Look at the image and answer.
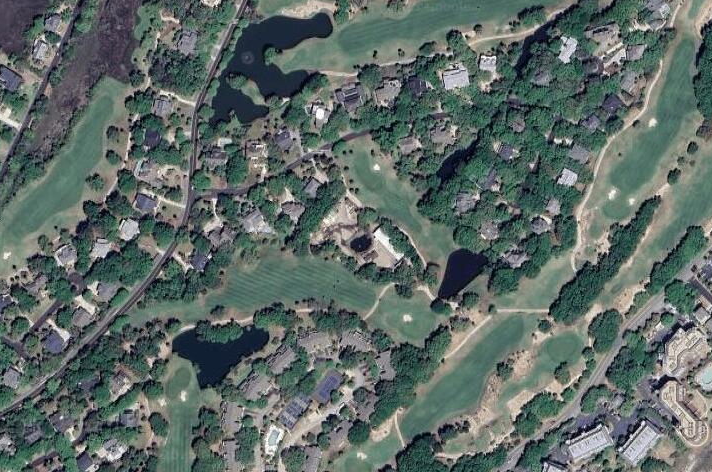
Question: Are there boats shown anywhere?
No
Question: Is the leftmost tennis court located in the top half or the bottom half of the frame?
bottom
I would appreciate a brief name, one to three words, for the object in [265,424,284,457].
swimming pool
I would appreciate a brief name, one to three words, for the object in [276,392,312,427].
tennis court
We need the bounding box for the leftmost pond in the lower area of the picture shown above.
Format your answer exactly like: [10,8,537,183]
[172,326,270,388]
